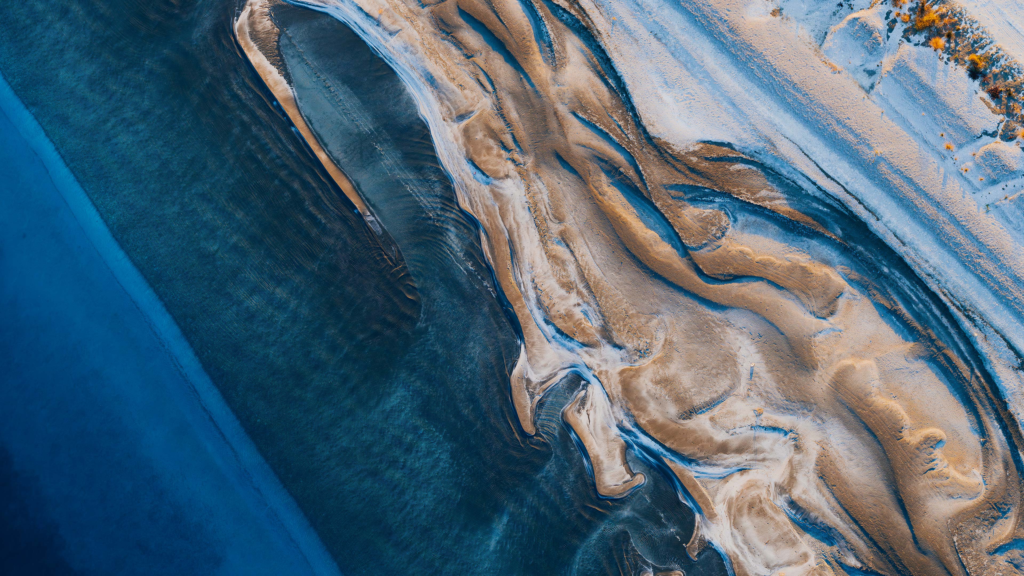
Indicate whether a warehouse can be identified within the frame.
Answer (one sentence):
No, the frame has no warehouse in it.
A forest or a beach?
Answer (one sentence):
The picture captures a beach.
